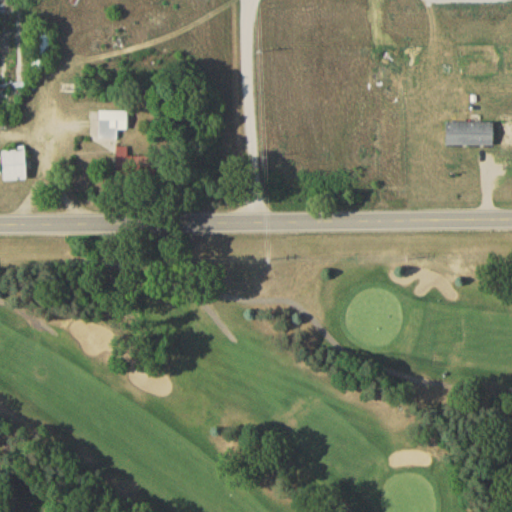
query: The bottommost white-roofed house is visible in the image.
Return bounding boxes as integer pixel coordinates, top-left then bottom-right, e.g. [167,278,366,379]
[1,144,26,182]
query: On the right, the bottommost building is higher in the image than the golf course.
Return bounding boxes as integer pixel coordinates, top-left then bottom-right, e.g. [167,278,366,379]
[446,114,494,149]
